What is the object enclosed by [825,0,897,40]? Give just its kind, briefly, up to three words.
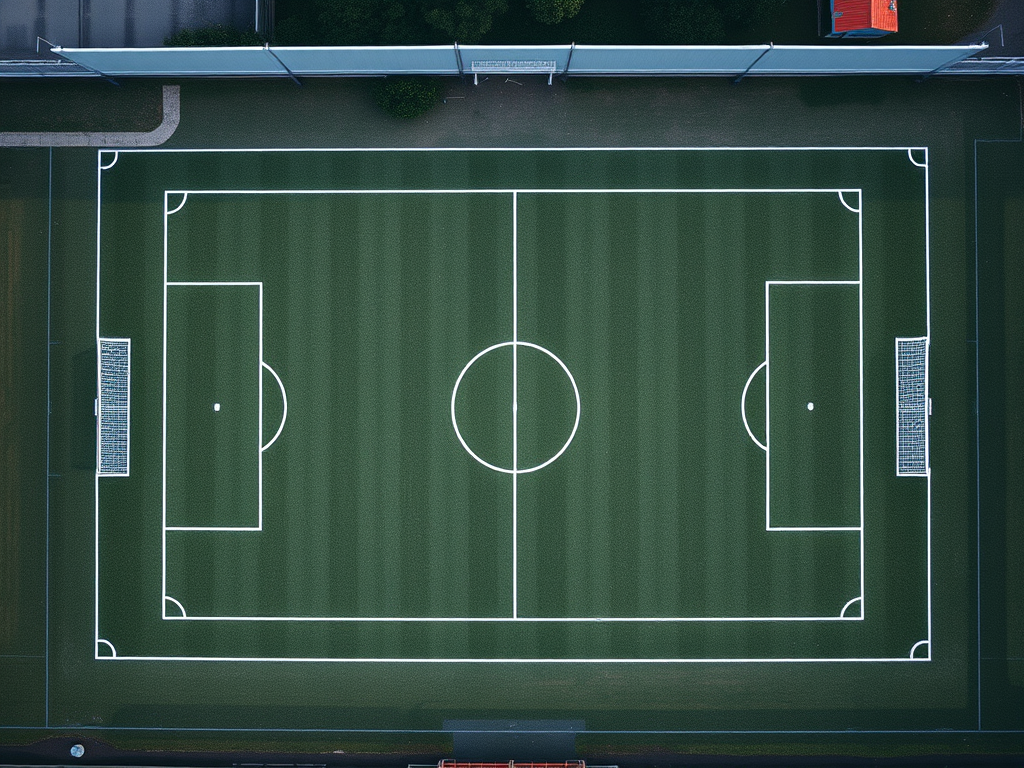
shed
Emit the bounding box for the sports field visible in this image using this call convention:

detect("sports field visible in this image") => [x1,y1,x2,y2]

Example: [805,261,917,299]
[163,188,864,621]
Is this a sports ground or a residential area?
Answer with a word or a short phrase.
sports ground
